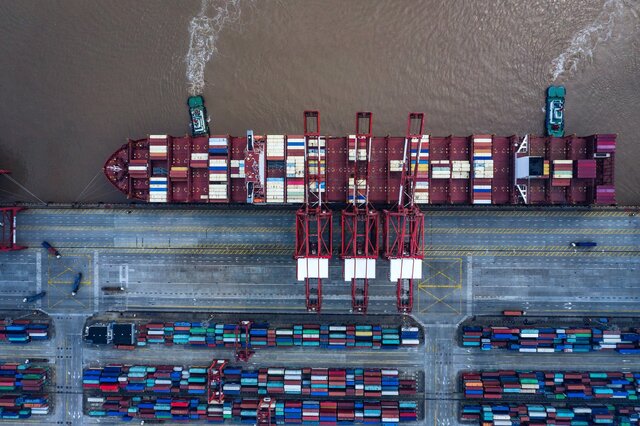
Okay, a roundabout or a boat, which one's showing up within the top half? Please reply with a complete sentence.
Visible within the top half is a boat.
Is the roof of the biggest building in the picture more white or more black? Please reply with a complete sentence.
The roof of the biggest building is black.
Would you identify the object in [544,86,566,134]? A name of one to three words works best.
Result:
boat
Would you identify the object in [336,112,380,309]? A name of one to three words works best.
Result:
container crane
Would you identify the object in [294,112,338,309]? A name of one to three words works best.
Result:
container crane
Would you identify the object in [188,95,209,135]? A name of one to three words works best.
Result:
boat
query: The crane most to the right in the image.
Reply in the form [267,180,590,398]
[379,112,425,309]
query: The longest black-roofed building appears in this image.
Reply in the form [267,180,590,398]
[87,322,138,345]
